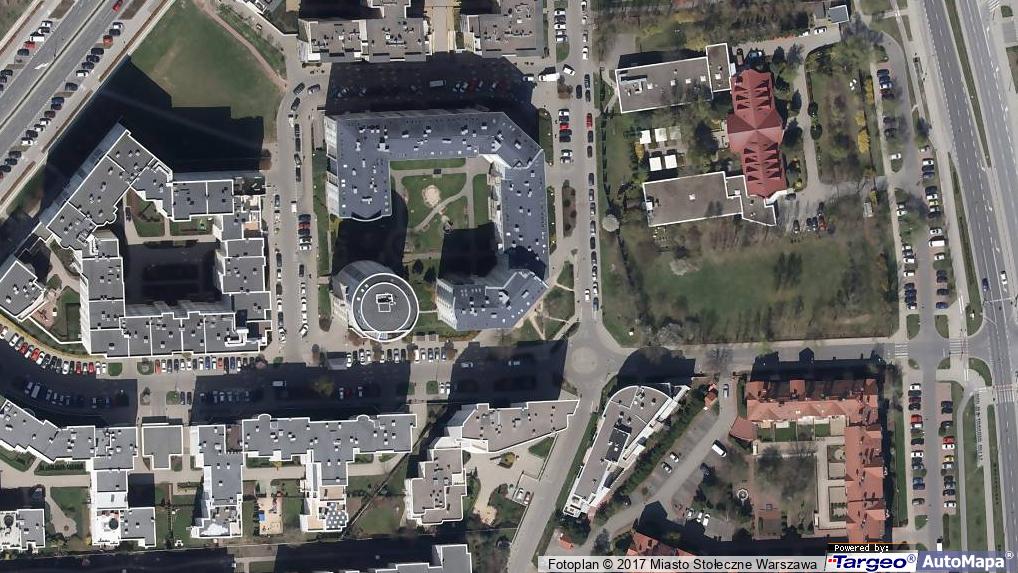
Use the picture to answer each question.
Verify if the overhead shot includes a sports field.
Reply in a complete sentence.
No, there's no sports field here.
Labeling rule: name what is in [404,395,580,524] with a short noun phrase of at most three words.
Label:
building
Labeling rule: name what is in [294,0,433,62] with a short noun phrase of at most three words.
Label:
building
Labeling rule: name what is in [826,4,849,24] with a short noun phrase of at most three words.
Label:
shed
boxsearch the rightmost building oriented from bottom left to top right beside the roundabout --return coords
[560,383,690,517]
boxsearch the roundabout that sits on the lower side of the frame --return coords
[565,339,606,381]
